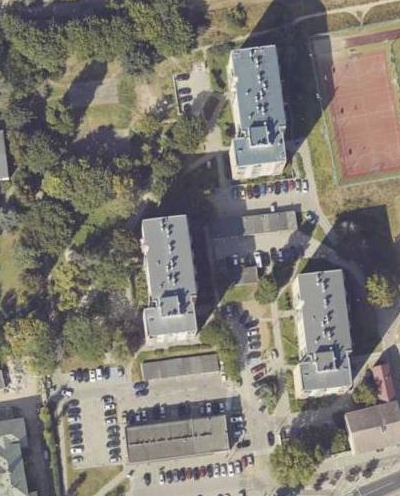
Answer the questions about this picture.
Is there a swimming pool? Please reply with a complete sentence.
No, no swimming pool is visible in the scene.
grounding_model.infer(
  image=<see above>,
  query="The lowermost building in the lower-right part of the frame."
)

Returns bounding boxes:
[345,402,400,454]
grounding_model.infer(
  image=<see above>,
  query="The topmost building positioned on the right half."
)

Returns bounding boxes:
[230,45,287,181]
